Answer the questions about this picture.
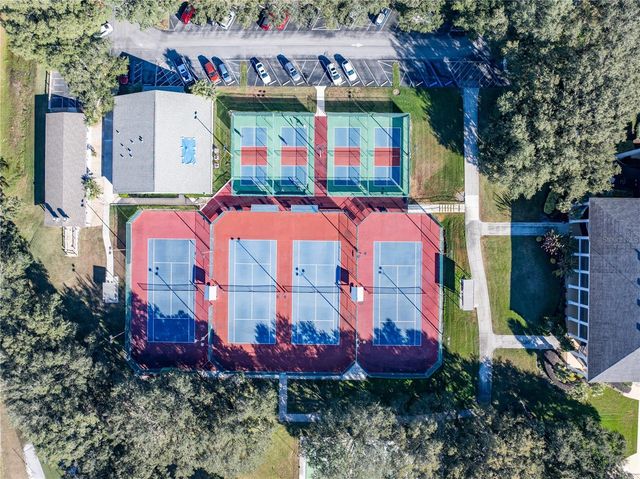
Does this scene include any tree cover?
Yes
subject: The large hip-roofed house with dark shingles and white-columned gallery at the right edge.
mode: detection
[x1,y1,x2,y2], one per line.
[561,197,640,383]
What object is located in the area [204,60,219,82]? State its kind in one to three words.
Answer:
car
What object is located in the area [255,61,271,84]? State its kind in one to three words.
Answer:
car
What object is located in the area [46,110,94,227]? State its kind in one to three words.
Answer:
building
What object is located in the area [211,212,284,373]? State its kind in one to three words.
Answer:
tennis court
